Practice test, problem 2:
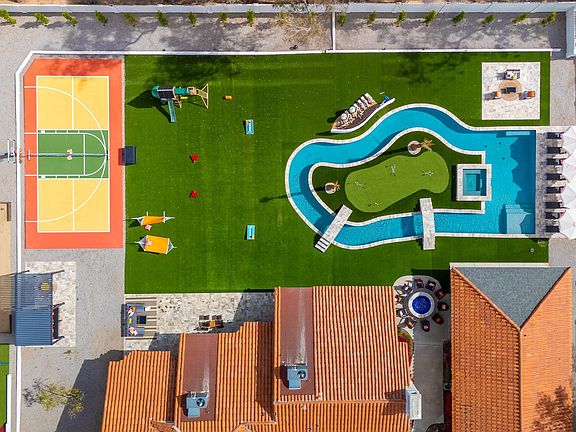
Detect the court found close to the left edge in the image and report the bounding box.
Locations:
[24,60,124,248]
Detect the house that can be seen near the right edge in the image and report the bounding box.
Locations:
[452,267,574,432]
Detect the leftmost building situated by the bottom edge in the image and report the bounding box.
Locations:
[100,287,421,432]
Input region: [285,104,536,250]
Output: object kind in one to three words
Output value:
swimming pool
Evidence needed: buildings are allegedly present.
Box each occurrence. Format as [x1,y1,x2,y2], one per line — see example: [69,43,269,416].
[452,267,574,432]
[100,287,421,432]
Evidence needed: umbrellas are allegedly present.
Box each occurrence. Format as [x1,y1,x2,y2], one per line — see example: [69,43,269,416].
[557,122,576,155]
[555,209,576,242]
[556,182,576,211]
[557,153,576,183]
